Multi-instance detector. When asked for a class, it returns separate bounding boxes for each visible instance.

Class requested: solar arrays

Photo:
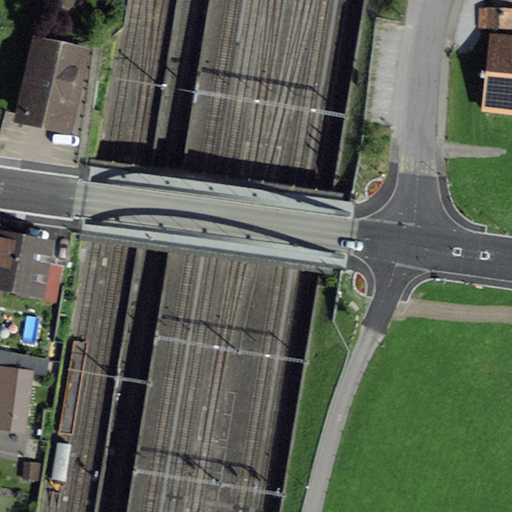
[486,76,512,112]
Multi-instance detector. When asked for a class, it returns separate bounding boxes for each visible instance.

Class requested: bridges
[80,160,356,274]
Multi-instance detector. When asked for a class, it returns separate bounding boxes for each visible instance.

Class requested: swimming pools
[20,315,42,348]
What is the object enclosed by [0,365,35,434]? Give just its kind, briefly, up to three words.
house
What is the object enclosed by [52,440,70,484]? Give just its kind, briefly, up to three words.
rail car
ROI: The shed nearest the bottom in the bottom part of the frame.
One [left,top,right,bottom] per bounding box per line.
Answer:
[22,462,42,482]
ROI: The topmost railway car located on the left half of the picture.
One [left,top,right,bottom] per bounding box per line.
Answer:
[59,339,86,437]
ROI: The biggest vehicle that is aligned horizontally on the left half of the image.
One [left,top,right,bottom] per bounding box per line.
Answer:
[50,134,80,148]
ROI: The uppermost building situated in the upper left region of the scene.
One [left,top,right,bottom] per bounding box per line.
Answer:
[14,37,92,134]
